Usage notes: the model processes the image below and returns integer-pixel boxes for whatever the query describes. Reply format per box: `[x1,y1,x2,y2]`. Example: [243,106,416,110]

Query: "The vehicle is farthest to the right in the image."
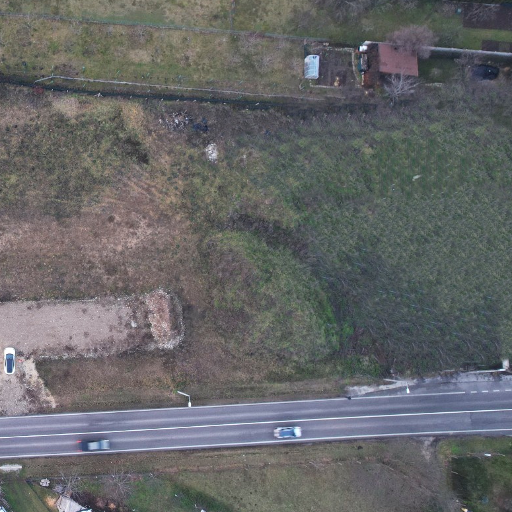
[275,426,305,441]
